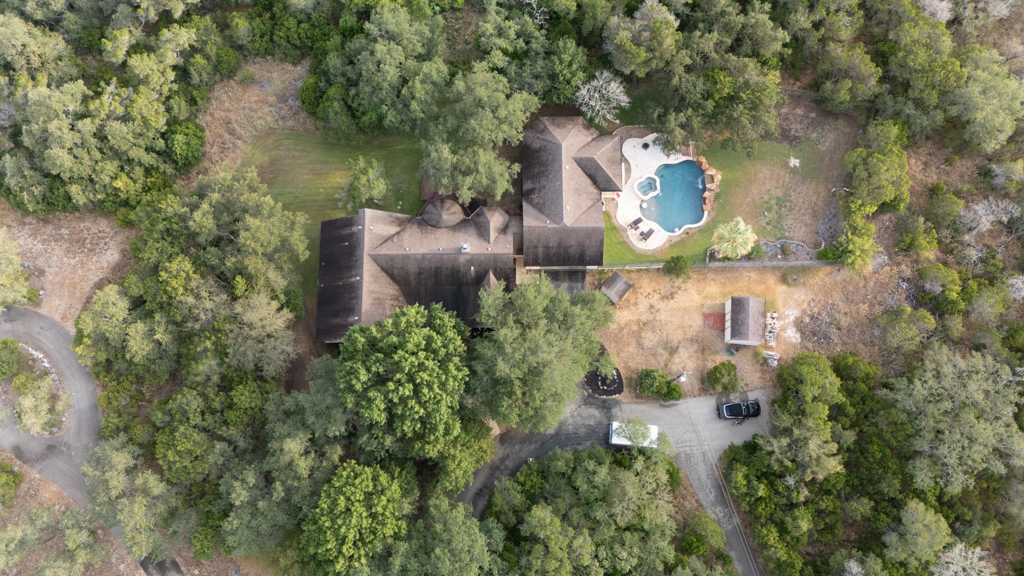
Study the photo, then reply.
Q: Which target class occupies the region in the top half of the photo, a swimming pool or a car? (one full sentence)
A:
There is a swimming pool in the top half of the photo.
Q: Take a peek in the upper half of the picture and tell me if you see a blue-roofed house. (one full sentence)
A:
No, no blue-roofed house is visible in the upper half of the picture.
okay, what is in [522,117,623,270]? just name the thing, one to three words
house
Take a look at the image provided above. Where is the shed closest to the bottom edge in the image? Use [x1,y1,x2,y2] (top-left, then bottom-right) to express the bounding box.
[725,295,767,344]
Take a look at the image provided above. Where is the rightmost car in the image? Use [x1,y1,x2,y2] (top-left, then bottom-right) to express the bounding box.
[716,399,761,426]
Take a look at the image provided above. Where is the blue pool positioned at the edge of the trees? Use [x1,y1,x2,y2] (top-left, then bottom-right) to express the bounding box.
[636,156,709,236]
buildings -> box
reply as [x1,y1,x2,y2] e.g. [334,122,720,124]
[601,272,632,305]
[314,195,514,343]
[522,117,623,270]
[725,295,767,344]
